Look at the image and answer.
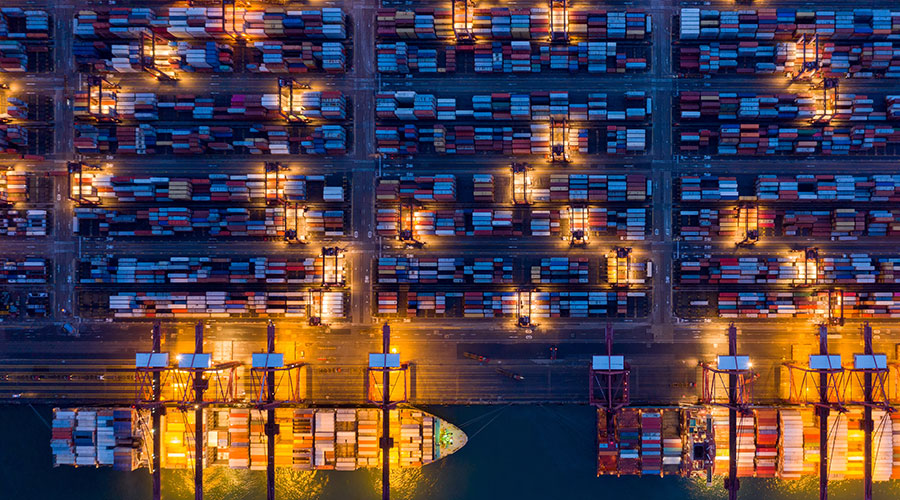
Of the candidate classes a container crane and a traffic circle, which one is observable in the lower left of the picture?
container crane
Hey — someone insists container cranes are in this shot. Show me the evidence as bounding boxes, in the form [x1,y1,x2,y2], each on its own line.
[221,0,250,42]
[87,78,120,122]
[514,287,536,326]
[365,322,422,500]
[173,322,246,500]
[584,322,631,441]
[398,203,421,243]
[511,163,533,205]
[452,0,475,42]
[278,78,304,122]
[567,203,588,243]
[611,248,633,286]
[141,34,171,80]
[128,322,195,500]
[323,248,348,286]
[308,287,333,326]
[831,322,889,500]
[548,118,570,162]
[265,163,291,205]
[700,322,754,500]
[284,203,309,243]
[784,322,845,500]
[794,34,818,80]
[795,248,819,286]
[249,322,313,500]
[817,287,843,326]
[811,78,837,122]
[67,163,99,205]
